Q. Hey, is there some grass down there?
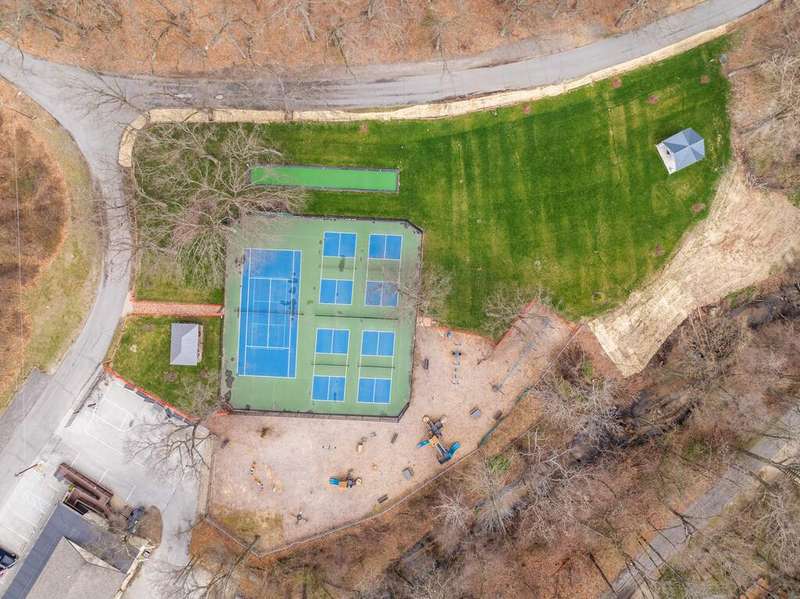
Yes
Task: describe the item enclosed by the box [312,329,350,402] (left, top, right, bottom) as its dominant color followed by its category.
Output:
blue sports court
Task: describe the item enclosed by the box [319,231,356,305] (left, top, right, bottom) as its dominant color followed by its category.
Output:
blue sports court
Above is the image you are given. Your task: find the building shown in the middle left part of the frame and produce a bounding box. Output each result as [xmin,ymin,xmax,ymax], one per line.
[170,323,203,365]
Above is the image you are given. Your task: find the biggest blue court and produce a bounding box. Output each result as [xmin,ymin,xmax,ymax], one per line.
[235,248,303,378]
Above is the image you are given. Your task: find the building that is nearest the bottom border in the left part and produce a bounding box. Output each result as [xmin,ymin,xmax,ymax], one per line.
[5,500,150,599]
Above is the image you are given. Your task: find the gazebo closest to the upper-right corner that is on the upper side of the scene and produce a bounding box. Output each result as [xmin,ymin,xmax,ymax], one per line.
[656,128,705,174]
